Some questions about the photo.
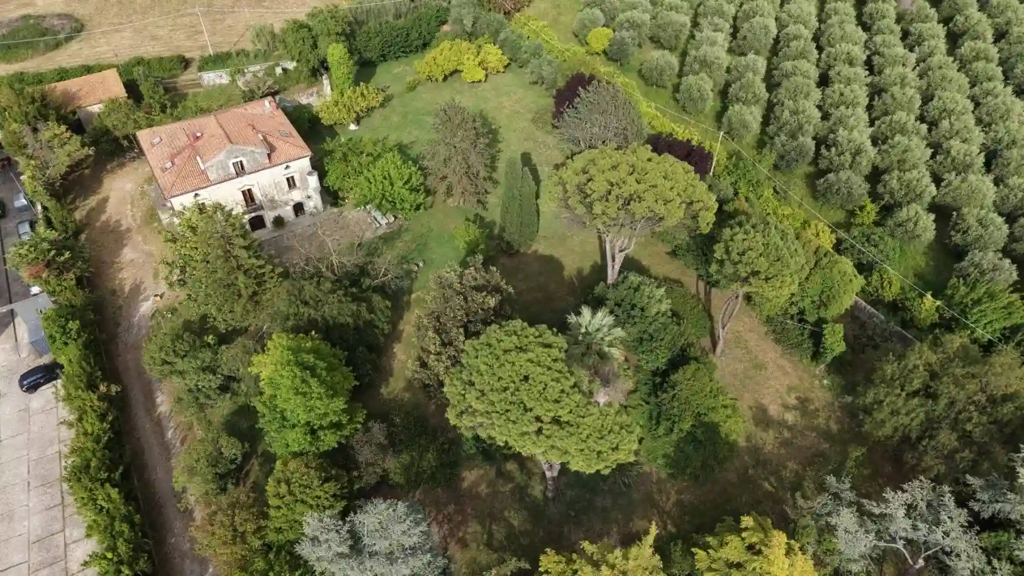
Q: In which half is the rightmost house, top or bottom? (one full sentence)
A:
The top half of the photo is where the rightmost house is.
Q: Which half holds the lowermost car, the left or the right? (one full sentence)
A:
The lowermost car sits on the left side.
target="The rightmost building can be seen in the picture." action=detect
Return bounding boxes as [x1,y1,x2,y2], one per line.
[131,100,325,256]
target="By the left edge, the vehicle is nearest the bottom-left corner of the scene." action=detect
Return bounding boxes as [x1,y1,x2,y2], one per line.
[12,355,56,390]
